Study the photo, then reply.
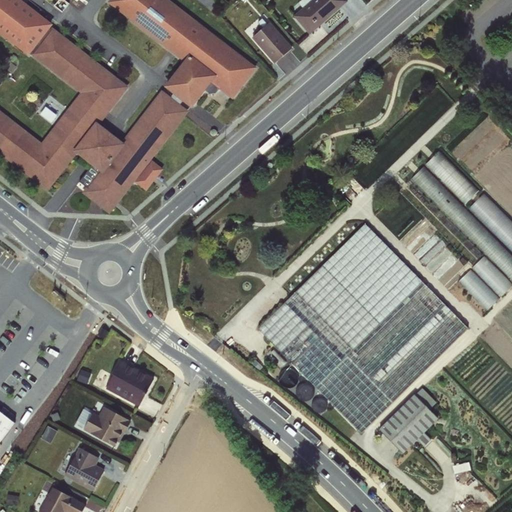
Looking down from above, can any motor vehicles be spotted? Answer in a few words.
Yes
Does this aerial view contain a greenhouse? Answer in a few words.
Yes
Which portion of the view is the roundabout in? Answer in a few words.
left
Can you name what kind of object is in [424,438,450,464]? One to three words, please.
building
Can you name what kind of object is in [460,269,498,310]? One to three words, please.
greenhouse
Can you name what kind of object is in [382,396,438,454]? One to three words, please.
barn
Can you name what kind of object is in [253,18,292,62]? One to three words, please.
house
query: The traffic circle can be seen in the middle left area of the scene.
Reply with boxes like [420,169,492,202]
[46,228,164,340]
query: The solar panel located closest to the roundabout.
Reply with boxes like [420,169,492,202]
[114,126,161,184]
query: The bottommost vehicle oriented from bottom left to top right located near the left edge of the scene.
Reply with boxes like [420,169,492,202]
[18,407,34,426]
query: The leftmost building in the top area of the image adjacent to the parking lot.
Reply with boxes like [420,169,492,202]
[0,24,127,188]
